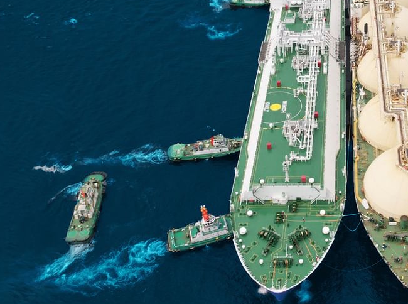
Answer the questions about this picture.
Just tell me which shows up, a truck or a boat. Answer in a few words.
boat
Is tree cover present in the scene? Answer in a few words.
No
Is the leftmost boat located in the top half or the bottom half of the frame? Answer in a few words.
bottom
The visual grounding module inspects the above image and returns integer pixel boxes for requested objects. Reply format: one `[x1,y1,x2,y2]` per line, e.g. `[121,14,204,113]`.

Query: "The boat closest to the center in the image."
[167,125,242,162]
